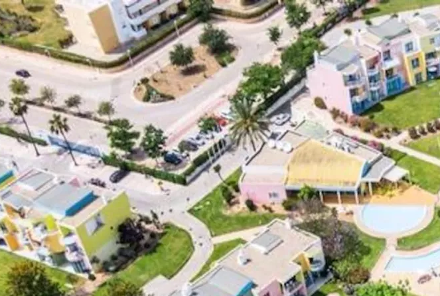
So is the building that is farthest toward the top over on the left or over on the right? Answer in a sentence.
It is on the left.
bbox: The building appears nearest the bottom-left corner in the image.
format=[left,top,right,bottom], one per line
[0,154,139,278]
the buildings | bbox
[240,129,411,205]
[0,154,139,278]
[306,0,440,114]
[73,0,193,53]
[174,215,334,296]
